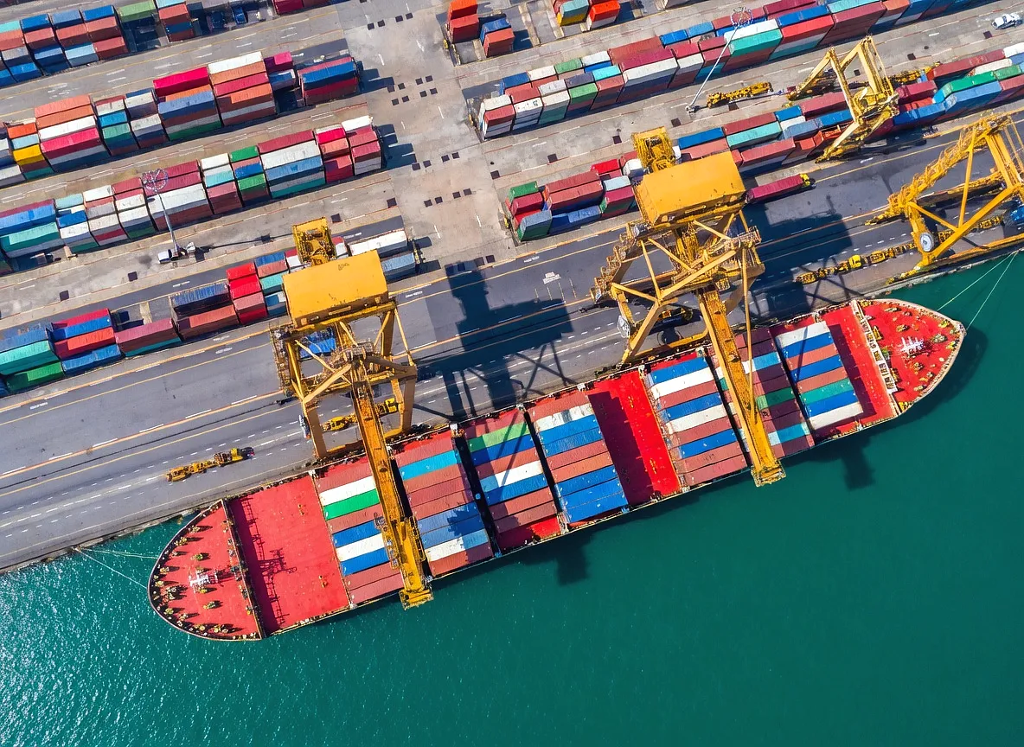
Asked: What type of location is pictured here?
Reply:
port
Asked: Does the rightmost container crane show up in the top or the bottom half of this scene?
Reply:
top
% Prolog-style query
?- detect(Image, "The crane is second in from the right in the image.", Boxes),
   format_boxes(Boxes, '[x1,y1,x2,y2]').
[789,36,906,161]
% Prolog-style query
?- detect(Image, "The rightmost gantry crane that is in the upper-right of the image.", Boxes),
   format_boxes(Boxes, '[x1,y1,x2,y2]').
[852,113,1024,272]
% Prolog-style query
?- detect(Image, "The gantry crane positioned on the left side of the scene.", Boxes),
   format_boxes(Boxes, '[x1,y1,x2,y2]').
[258,215,432,609]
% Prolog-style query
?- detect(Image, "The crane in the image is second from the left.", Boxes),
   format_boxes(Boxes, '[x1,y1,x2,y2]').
[583,118,795,484]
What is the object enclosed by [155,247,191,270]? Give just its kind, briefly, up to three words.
truck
